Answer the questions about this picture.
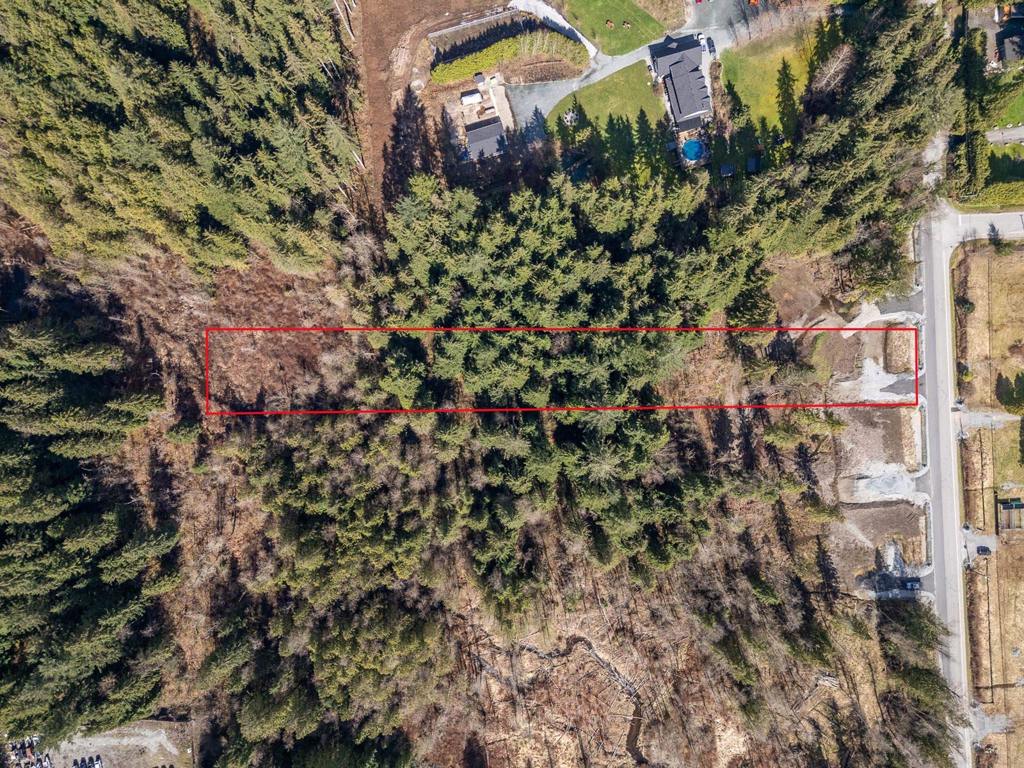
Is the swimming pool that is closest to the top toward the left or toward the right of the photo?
right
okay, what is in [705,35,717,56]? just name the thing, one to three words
vehicle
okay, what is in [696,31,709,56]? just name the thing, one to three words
vehicle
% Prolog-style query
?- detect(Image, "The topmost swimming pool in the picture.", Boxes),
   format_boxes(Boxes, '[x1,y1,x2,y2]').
[682,138,705,161]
